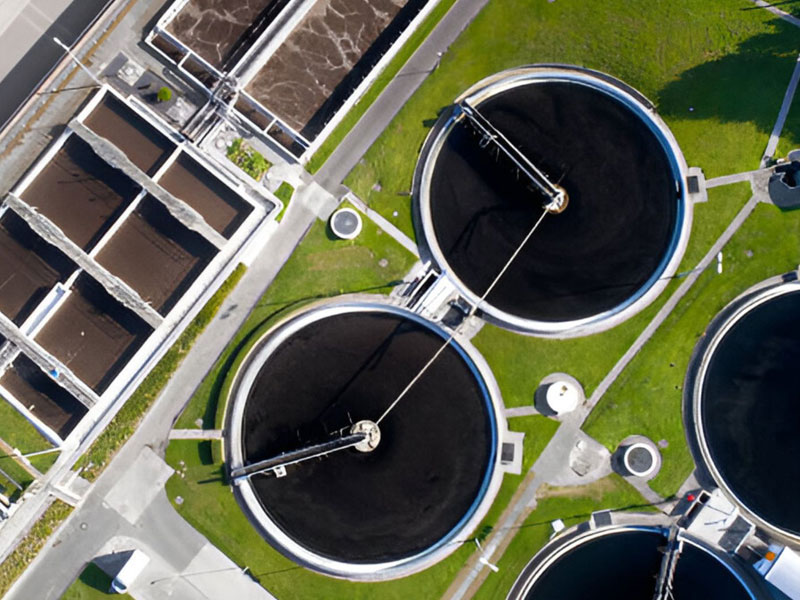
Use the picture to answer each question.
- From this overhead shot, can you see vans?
Yes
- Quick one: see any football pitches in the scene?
No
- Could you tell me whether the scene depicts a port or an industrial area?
industrial area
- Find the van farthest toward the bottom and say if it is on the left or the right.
left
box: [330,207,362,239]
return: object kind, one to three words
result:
storage tank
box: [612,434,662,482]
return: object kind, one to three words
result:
storage tank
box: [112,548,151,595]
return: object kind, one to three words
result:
van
